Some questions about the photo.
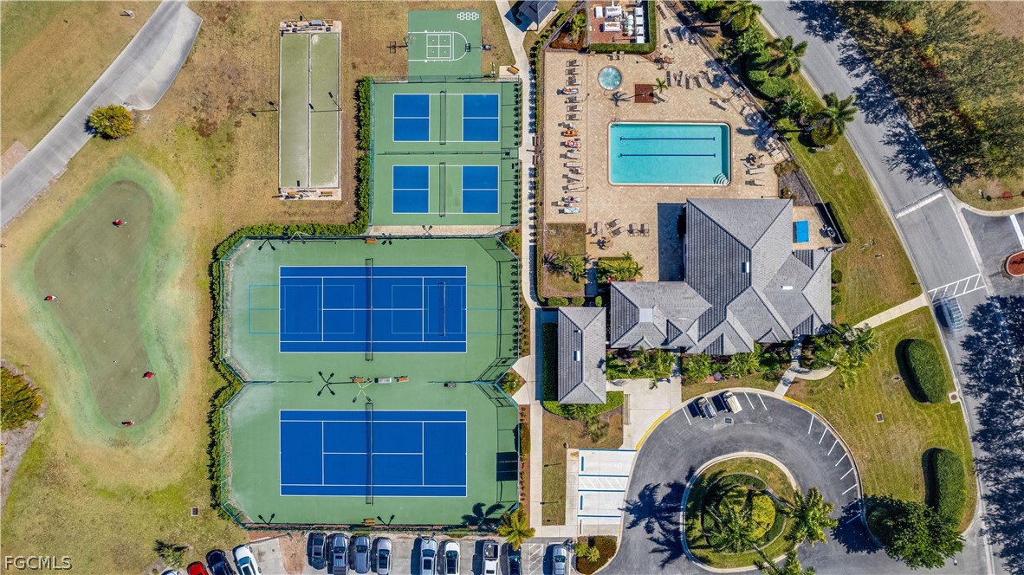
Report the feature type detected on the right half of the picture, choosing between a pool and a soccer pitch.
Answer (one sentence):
You can see a pool on the right half of the picture.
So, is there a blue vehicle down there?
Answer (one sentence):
Yes, there's a blue vehicle here.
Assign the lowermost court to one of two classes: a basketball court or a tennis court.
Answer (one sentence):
It turns out the lowermost court is a tennis court.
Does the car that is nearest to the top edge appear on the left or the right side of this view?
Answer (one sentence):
The car that is nearest to the top edge sits on the right side.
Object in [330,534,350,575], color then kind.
blue vehicle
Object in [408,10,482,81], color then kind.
green basketball court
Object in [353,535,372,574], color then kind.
blue car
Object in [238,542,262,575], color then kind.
white car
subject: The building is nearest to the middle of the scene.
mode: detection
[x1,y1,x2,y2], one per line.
[558,307,607,405]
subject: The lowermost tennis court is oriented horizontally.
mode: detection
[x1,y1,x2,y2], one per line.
[230,383,518,524]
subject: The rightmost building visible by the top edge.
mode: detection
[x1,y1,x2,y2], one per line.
[505,0,571,37]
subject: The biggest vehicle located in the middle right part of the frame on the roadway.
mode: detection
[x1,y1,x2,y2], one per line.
[937,295,965,334]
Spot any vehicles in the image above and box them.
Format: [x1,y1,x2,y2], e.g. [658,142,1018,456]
[551,546,569,575]
[311,532,330,570]
[443,542,462,575]
[353,535,372,574]
[190,560,209,575]
[211,548,236,575]
[375,537,393,575]
[238,542,262,575]
[484,543,500,575]
[723,392,743,415]
[506,544,524,575]
[420,539,439,575]
[330,534,350,575]
[697,398,717,421]
[937,295,965,334]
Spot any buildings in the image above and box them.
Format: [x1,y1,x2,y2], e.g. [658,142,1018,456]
[558,307,607,405]
[610,197,833,356]
[505,0,571,37]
